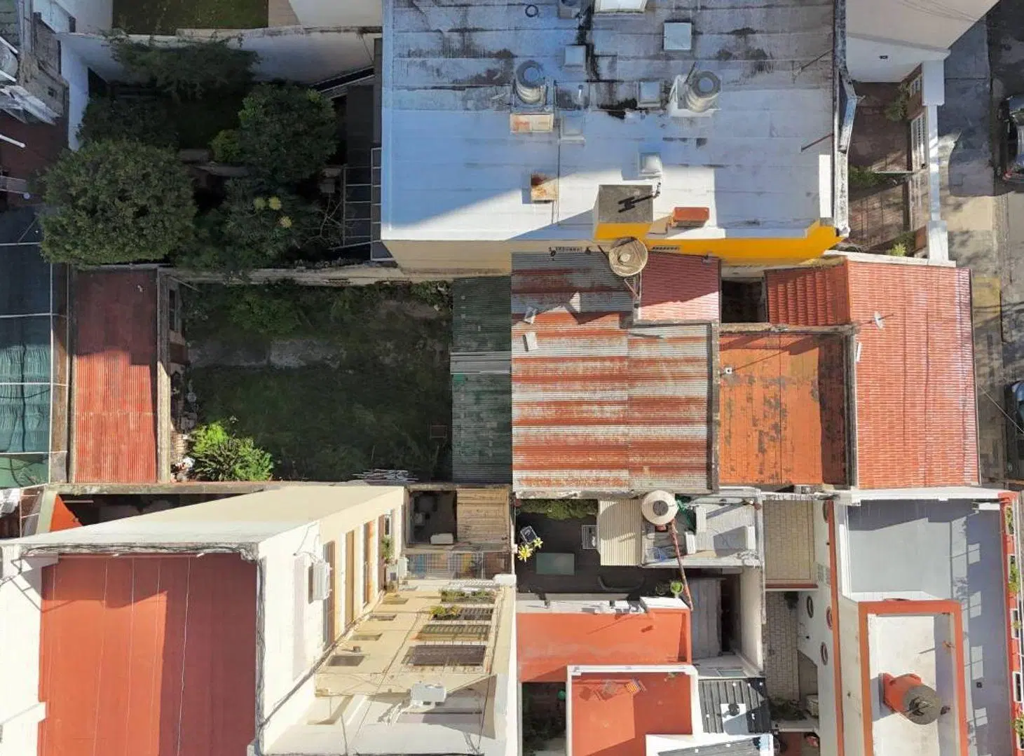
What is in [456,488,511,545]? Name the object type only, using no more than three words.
shed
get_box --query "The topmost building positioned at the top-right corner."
[847,0,980,78]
